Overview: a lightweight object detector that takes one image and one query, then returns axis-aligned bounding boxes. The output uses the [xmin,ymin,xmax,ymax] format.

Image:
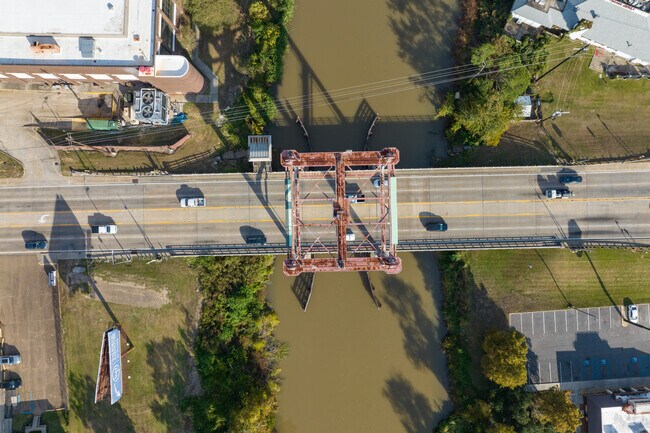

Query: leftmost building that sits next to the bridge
[0,0,204,92]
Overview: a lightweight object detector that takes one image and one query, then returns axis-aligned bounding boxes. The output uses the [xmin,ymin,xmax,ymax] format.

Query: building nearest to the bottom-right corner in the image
[584,379,650,433]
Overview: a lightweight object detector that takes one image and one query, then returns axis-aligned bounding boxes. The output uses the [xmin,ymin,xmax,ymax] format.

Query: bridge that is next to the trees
[161,147,560,277]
